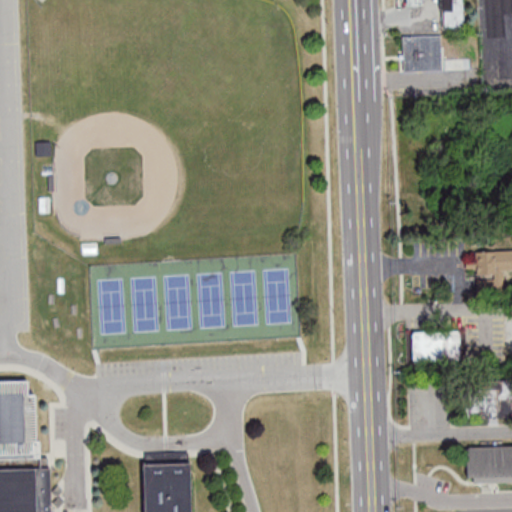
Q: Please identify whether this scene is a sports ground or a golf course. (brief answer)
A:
sports ground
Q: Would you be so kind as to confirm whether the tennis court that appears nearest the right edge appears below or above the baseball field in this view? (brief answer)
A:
below it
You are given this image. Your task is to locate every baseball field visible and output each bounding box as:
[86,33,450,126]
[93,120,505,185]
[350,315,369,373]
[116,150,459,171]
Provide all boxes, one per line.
[21,0,304,264]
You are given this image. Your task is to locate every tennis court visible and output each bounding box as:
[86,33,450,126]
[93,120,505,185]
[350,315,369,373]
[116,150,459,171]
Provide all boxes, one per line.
[131,277,159,332]
[98,279,126,334]
[263,269,291,324]
[230,271,258,326]
[197,273,225,328]
[164,275,192,330]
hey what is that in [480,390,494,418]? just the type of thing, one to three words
house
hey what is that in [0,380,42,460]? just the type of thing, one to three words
building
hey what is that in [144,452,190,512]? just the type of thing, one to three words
building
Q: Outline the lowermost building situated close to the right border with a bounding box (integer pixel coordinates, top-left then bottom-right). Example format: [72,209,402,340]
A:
[468,446,512,483]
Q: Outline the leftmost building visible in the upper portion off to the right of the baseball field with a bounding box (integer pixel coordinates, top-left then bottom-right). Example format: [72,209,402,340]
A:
[399,36,442,72]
